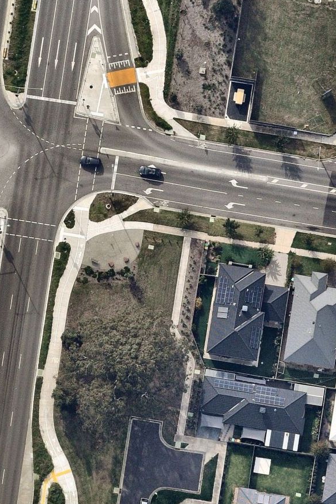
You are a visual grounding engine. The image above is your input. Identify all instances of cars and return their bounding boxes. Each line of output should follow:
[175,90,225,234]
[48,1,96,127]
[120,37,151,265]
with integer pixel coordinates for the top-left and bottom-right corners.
[80,156,102,168]
[138,167,162,178]
[139,496,149,504]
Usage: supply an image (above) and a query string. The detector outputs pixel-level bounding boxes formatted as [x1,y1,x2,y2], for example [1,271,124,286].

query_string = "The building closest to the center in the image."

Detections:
[207,261,290,361]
